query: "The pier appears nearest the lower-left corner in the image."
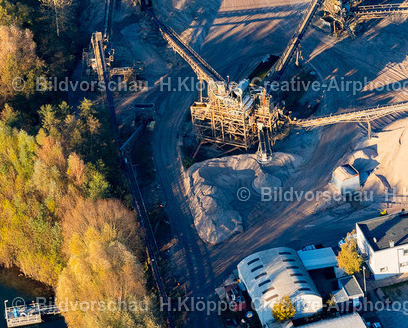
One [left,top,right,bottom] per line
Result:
[4,291,42,326]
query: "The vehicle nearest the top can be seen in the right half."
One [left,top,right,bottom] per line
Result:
[324,231,356,249]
